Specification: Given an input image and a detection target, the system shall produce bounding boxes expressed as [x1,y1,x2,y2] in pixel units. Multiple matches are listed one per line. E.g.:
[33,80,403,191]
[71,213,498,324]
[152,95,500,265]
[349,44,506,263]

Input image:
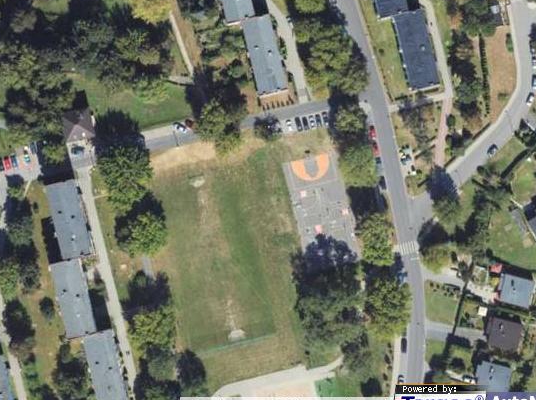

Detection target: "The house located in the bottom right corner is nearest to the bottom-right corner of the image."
[473,361,513,399]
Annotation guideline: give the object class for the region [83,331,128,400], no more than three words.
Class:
building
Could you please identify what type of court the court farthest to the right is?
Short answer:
basketball court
